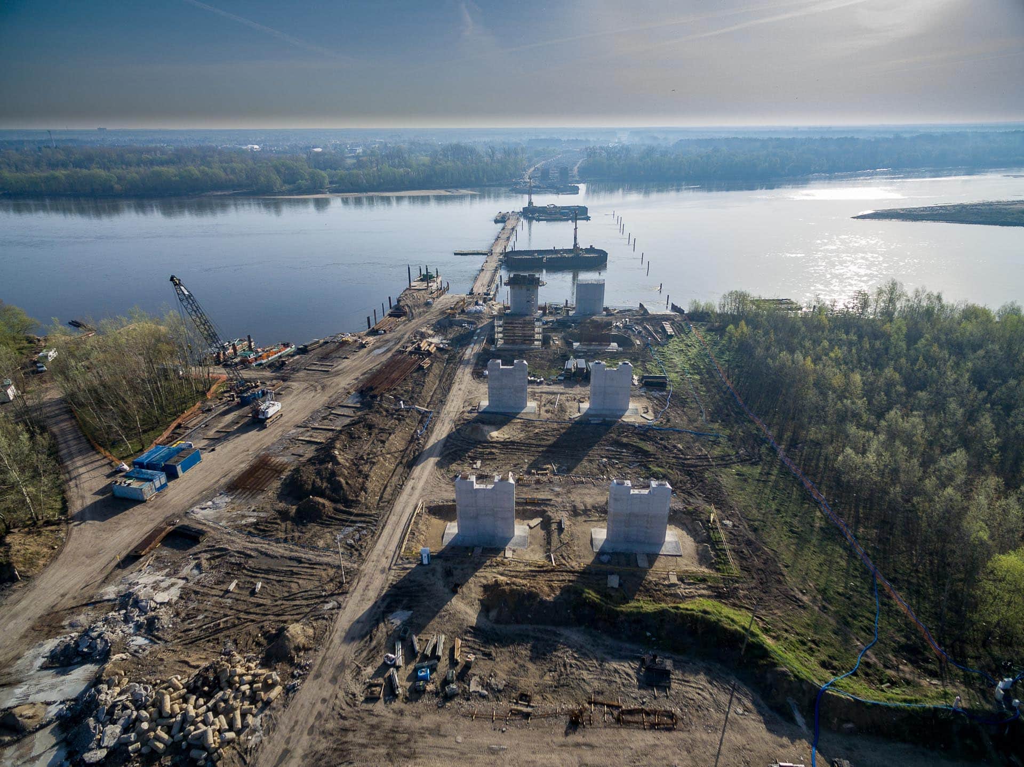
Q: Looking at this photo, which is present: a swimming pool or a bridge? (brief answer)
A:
bridge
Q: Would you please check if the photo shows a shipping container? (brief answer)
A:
Yes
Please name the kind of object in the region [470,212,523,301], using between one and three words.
bridge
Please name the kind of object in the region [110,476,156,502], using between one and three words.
shipping container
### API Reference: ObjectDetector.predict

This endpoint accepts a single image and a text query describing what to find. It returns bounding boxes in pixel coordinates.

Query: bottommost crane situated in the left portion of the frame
[245,384,287,427]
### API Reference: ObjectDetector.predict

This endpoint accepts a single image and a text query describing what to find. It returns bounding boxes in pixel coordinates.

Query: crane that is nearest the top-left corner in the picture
[168,273,262,397]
